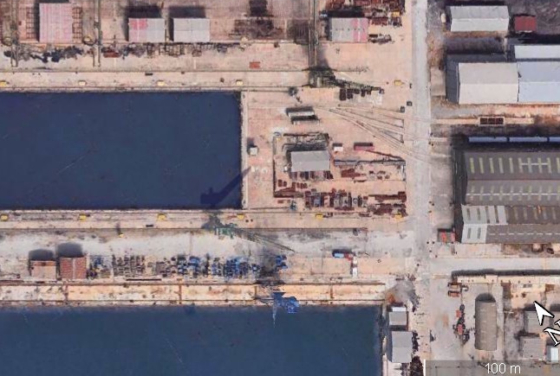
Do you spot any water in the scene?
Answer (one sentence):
Yes, water can be seen from above here.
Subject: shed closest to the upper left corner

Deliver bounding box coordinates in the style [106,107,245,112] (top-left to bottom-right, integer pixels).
[40,3,72,42]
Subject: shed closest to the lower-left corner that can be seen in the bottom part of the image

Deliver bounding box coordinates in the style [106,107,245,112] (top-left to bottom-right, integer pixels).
[31,261,56,279]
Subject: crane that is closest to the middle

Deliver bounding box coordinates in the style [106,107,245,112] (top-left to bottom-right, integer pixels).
[213,217,296,252]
